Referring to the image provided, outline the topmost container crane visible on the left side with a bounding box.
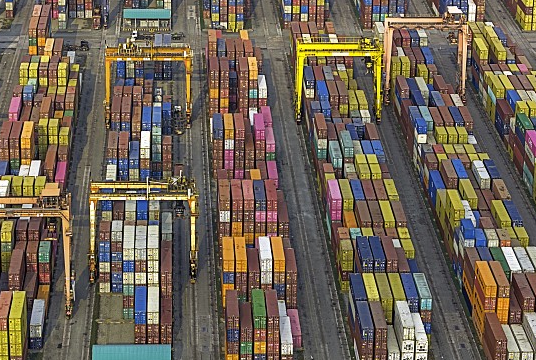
[103,36,194,130]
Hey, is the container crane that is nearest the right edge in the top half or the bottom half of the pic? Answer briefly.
top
